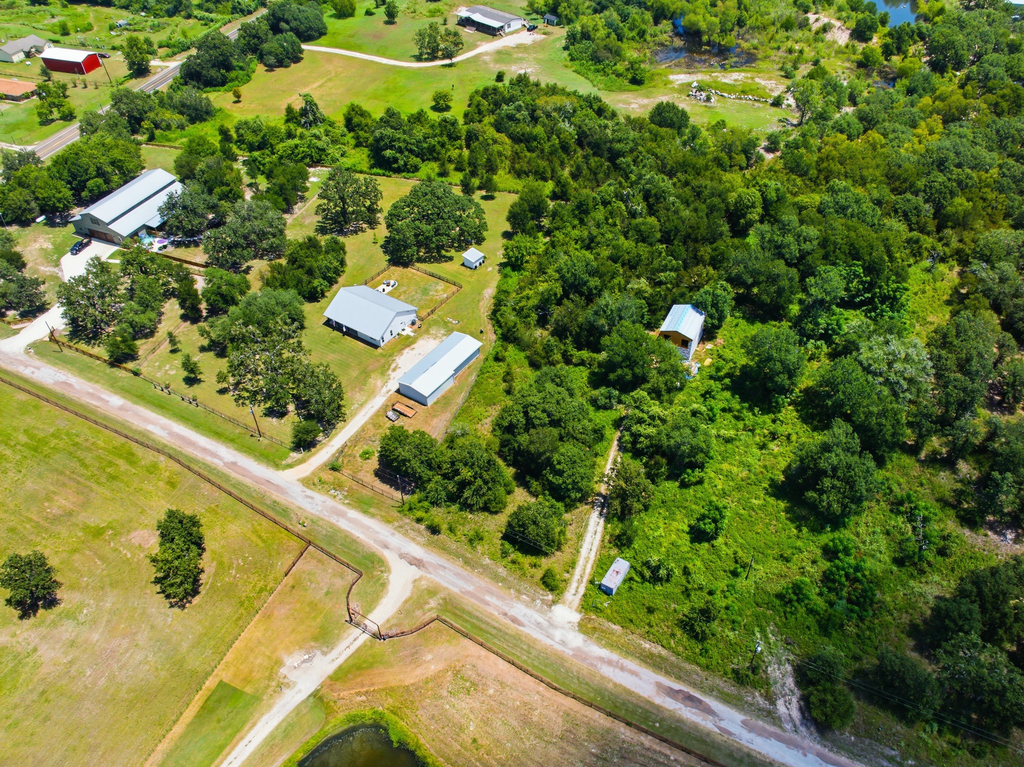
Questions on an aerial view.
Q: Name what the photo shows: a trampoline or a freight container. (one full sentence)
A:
I can see a freight container in this picture.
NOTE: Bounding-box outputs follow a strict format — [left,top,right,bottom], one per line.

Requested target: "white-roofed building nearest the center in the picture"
[397,332,483,405]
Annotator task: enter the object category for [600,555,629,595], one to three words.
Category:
shipping container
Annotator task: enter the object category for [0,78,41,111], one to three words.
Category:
house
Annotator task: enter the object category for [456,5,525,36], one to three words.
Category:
house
